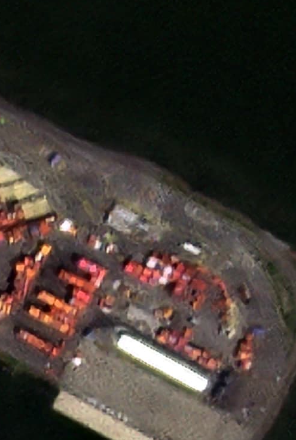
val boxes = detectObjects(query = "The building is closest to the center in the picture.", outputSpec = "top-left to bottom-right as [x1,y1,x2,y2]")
[109,203,154,237]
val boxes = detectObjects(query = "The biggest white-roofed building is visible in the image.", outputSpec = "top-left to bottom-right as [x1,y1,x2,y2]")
[117,333,210,391]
